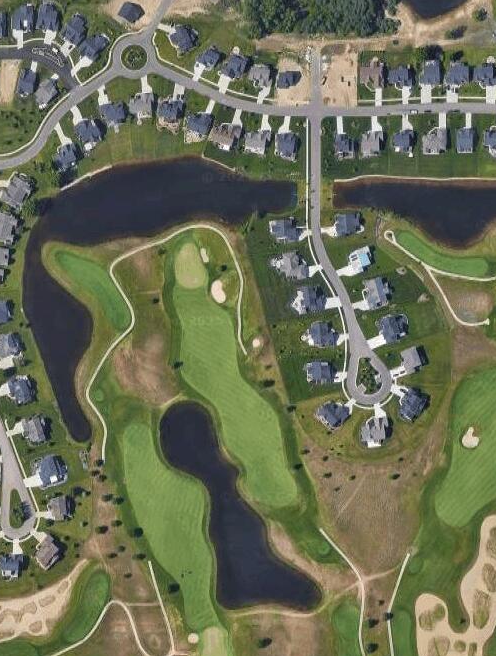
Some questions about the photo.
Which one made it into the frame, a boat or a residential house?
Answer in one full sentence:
The one in the frame is a residential house.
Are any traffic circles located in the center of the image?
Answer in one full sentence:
No, there's no traffic circle to be seen in the center of the image.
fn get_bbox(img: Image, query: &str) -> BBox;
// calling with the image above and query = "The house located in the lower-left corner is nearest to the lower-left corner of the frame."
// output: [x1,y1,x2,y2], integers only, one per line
[0,553,23,580]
